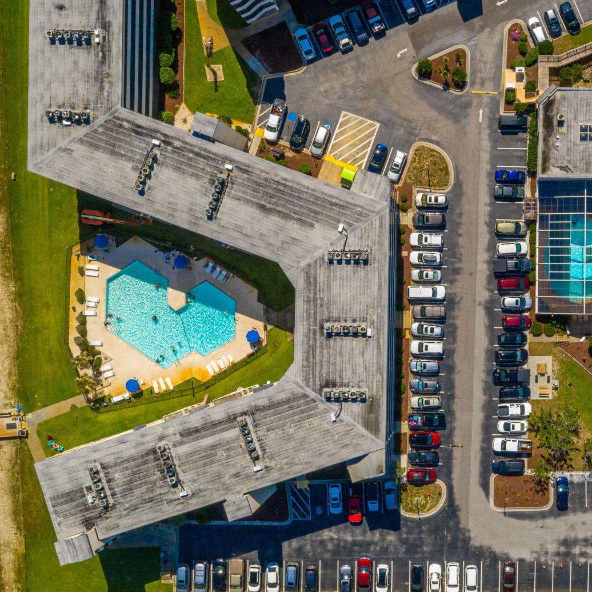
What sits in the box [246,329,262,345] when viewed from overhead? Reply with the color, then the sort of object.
blue umbrella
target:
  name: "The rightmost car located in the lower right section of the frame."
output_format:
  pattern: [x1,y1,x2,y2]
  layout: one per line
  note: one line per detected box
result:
[555,475,570,509]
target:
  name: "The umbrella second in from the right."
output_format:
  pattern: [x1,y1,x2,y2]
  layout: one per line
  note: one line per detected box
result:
[173,254,190,270]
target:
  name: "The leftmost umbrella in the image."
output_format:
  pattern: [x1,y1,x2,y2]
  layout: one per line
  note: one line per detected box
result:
[94,233,110,249]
